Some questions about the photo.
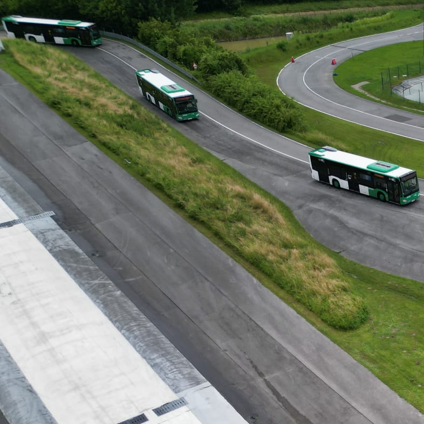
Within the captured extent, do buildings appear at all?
No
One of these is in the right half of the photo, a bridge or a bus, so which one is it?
bus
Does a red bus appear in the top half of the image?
No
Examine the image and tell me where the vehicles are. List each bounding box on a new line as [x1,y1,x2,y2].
[138,70,200,120]
[308,142,424,206]
[5,21,100,47]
